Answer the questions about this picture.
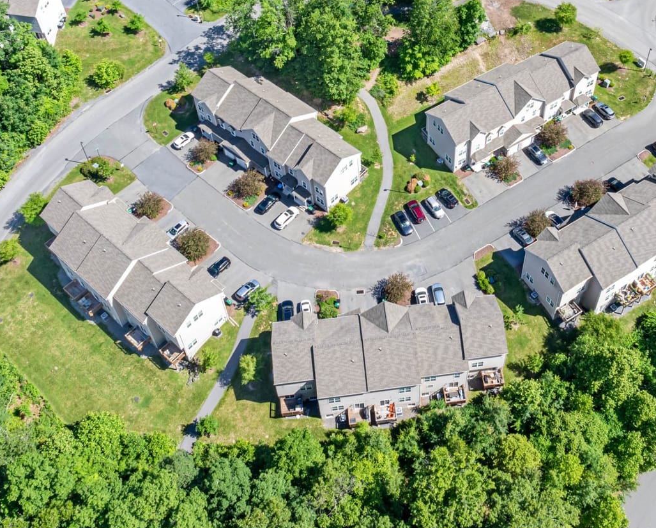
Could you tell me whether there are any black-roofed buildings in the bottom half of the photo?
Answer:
No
